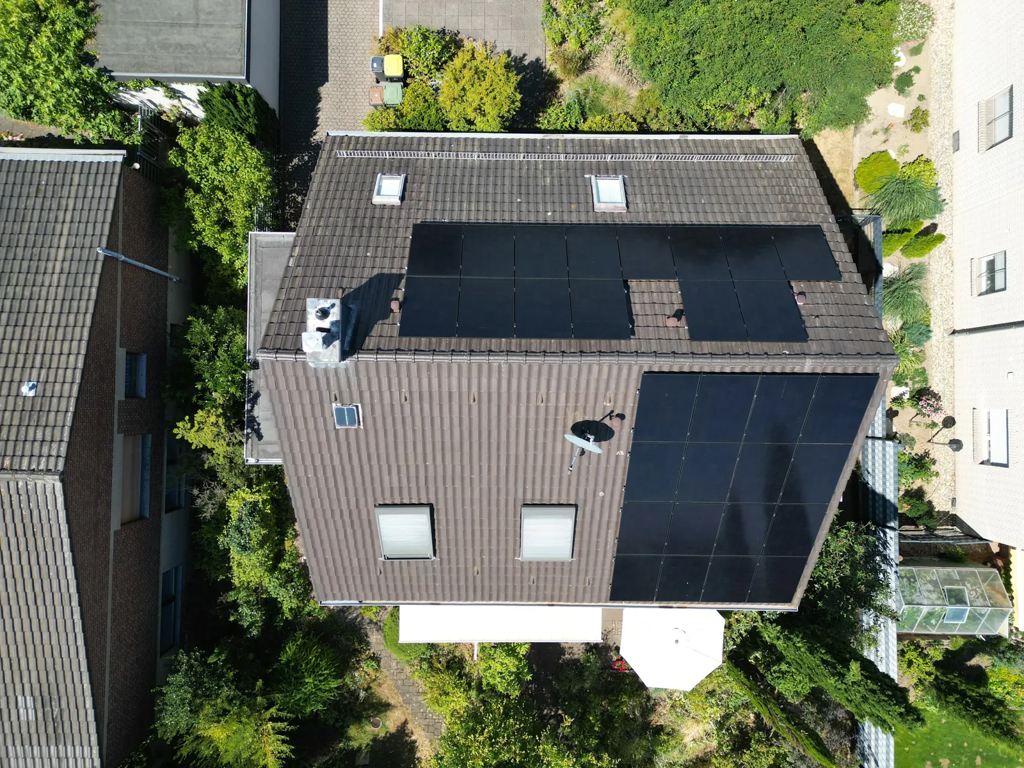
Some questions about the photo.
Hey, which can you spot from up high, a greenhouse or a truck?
greenhouse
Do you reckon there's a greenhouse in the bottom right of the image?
Yes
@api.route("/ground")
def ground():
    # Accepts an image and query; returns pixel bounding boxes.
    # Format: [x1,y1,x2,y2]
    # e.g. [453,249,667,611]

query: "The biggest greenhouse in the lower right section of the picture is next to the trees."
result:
[901,558,1011,635]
